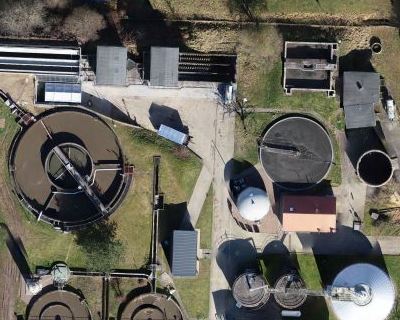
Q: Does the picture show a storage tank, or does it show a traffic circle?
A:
storage tank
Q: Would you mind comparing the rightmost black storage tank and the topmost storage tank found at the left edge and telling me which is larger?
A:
the topmost storage tank found at the left edge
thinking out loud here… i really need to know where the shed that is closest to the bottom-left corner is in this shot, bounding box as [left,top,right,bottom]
[172,229,200,276]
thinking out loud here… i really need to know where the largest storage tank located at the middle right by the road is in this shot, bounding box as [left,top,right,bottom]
[259,116,334,190]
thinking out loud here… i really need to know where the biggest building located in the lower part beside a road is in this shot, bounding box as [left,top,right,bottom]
[283,194,336,233]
